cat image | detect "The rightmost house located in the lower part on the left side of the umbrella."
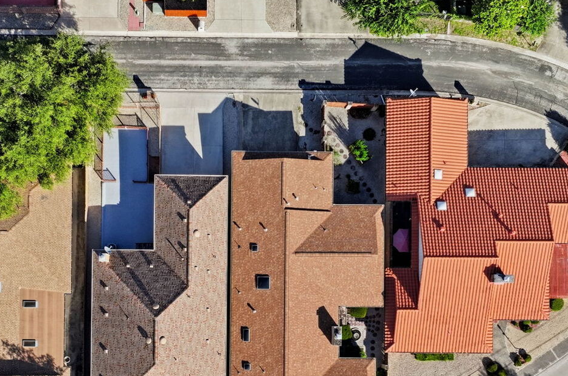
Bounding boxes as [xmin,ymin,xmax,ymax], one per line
[229,150,386,376]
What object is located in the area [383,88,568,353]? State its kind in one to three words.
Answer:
house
